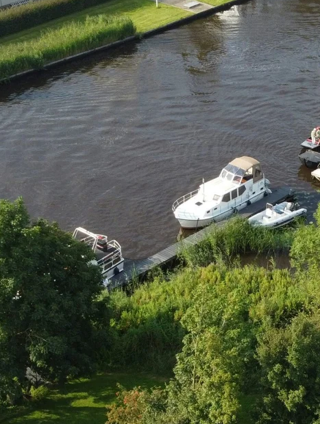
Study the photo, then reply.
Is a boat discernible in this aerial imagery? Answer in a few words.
Yes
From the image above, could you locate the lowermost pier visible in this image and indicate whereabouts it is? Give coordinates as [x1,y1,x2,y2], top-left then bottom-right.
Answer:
[126,185,303,281]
